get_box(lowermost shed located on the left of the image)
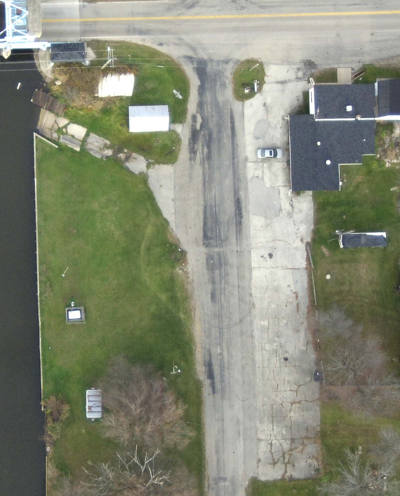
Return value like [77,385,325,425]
[128,105,170,133]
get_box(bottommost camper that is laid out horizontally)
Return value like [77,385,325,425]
[330,233,387,249]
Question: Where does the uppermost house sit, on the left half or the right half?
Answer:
left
